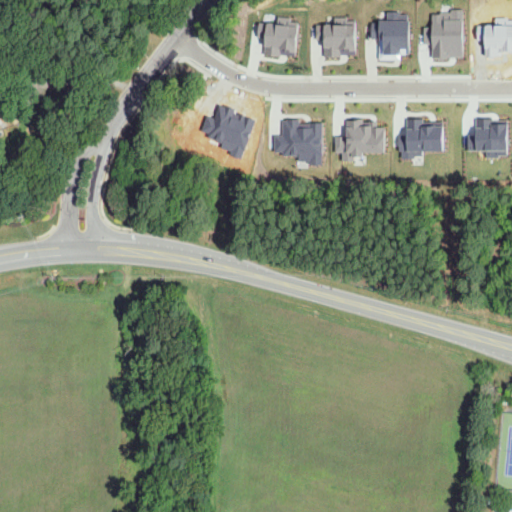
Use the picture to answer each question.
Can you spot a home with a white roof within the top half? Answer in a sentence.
Yes, within the top half there is a home with a white roof.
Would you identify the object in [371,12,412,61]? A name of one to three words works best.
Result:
house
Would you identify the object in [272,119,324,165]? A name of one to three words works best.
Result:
house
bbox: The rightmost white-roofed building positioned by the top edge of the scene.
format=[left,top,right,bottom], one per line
[476,18,512,57]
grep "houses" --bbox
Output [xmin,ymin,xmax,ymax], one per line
[423,10,466,61]
[468,119,509,158]
[396,118,446,160]
[371,12,412,61]
[201,103,260,162]
[257,17,302,58]
[476,18,512,57]
[316,17,360,58]
[336,120,388,162]
[272,119,324,165]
